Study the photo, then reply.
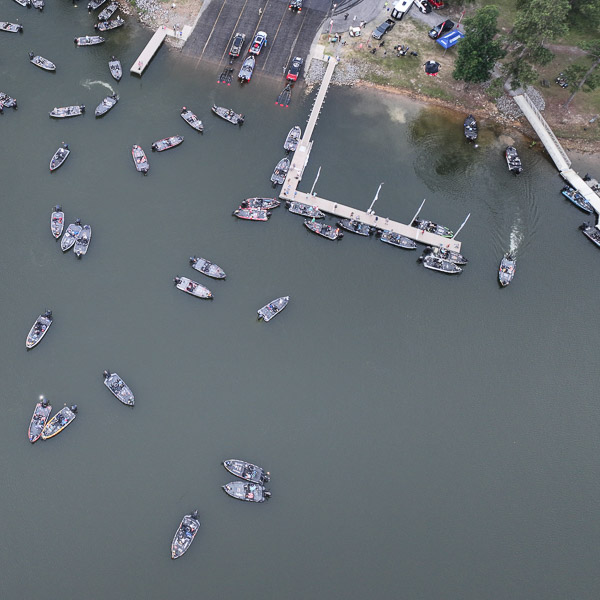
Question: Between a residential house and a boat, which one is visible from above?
boat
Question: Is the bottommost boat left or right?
left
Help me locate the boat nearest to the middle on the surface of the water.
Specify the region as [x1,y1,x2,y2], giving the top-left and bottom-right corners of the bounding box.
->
[258,296,290,323]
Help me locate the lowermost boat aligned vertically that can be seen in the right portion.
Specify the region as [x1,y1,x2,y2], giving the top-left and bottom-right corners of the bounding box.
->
[500,254,518,286]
